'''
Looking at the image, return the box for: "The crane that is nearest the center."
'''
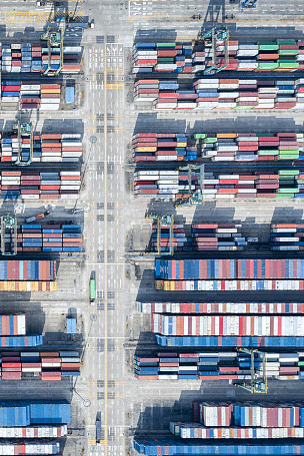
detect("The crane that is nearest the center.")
[142,212,174,258]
